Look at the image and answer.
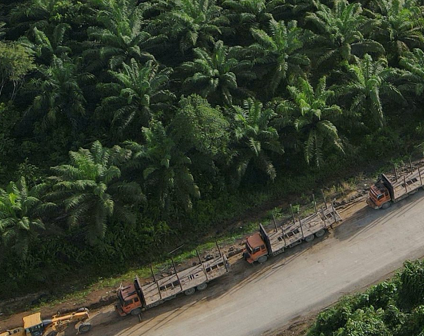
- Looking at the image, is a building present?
No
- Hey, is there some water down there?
No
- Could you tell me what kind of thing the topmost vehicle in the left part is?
truck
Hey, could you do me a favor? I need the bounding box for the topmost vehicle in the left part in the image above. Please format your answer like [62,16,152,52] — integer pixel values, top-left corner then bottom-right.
[112,245,223,317]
